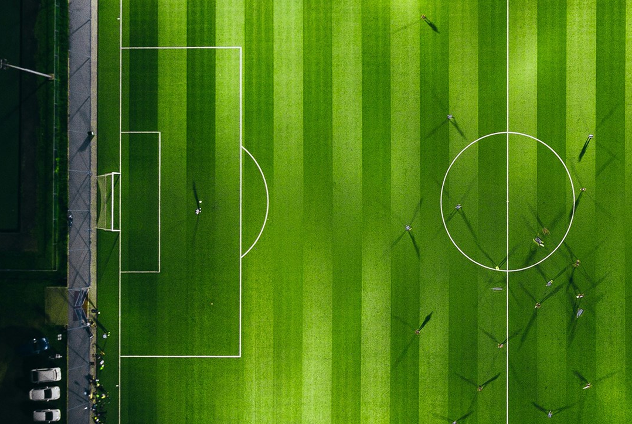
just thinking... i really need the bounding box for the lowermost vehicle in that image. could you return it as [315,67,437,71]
[31,409,62,424]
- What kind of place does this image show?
sports ground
